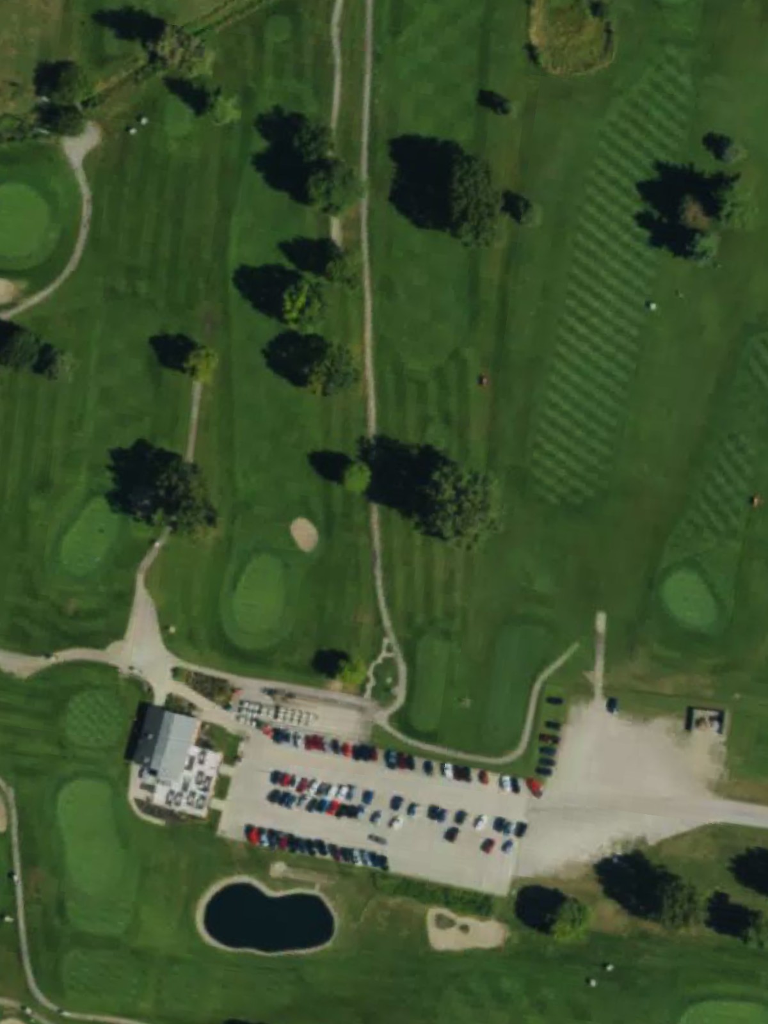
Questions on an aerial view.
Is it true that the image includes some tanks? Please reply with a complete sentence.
No, the scene contains no tank.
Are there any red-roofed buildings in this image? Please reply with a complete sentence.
No, the scene contains no red-roofed building.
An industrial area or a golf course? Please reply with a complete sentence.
This image shows a golf course.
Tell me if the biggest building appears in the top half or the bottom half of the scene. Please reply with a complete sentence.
It is in the bottom half that the biggest building appears.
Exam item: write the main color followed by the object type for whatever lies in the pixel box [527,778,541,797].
red vehicle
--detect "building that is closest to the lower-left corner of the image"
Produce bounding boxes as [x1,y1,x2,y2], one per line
[133,705,200,782]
